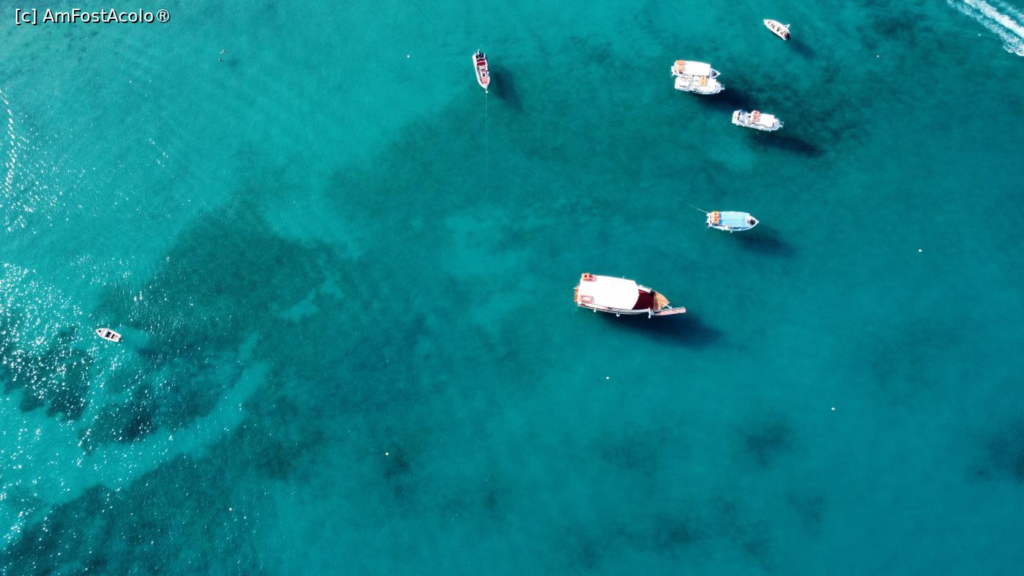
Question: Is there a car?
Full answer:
No, the photo shows no car.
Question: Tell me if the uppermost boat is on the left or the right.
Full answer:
It is on the right.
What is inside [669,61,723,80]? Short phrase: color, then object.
white boat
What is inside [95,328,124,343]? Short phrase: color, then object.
white boat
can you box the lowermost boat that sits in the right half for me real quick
[574,275,686,318]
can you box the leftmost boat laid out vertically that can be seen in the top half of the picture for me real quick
[473,47,490,89]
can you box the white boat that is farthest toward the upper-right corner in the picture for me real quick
[764,19,790,42]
